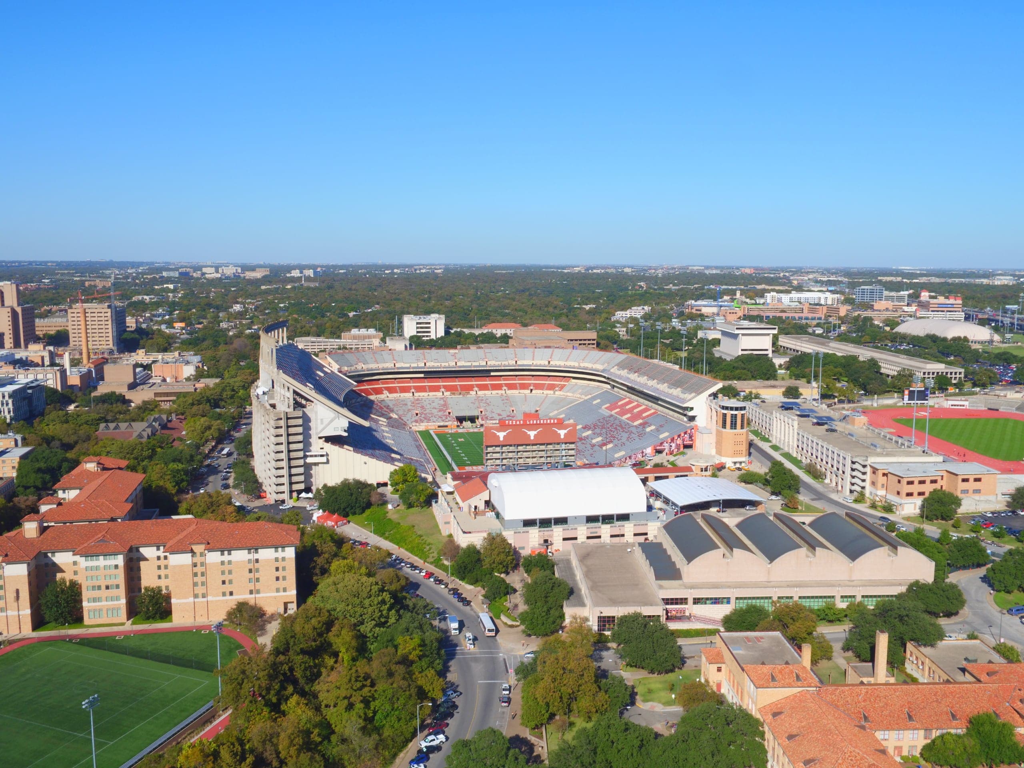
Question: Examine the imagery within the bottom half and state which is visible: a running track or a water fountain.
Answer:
running track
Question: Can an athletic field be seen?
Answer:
Yes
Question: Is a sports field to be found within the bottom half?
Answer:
Yes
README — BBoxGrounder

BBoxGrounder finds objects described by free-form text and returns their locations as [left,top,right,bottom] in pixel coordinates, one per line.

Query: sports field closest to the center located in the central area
[413,426,483,476]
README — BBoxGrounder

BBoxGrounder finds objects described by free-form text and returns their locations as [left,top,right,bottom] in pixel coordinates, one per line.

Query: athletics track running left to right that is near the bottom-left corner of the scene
[0,625,261,751]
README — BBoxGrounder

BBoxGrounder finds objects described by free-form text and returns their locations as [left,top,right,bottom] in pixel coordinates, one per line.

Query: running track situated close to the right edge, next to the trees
[851,407,1024,468]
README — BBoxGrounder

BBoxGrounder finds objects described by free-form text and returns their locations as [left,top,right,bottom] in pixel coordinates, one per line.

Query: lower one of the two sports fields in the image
[0,632,248,768]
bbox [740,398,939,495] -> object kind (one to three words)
building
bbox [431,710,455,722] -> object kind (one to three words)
vehicle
